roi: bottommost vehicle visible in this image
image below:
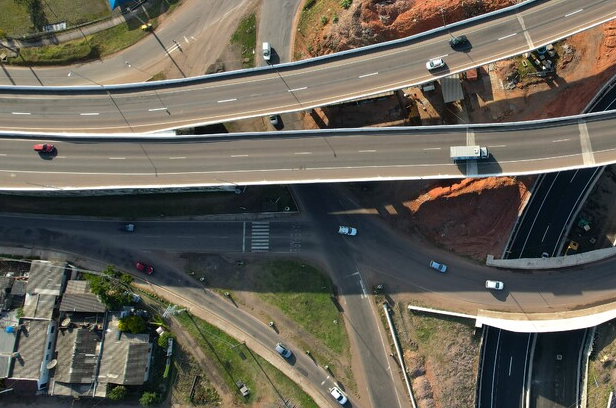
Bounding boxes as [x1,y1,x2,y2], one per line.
[329,386,348,405]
